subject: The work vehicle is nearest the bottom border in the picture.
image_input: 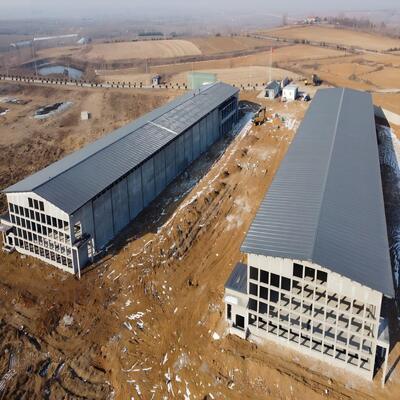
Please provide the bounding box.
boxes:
[250,105,268,123]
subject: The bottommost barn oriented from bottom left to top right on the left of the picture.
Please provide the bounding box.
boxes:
[0,81,240,278]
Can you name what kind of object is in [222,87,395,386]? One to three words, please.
barn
